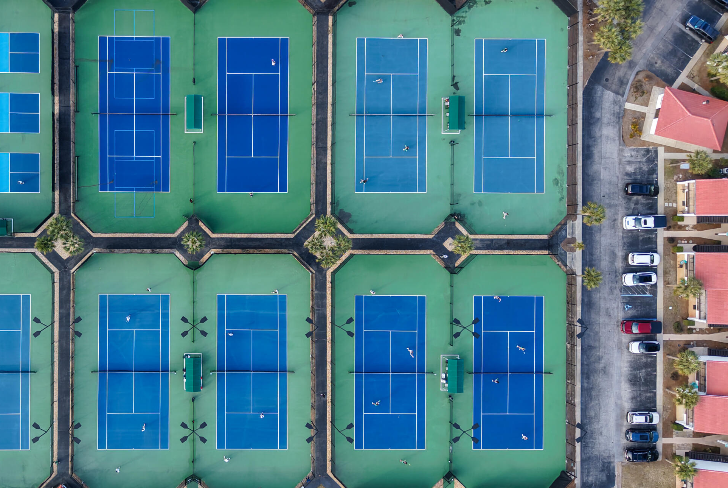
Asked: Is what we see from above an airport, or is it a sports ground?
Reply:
sports ground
